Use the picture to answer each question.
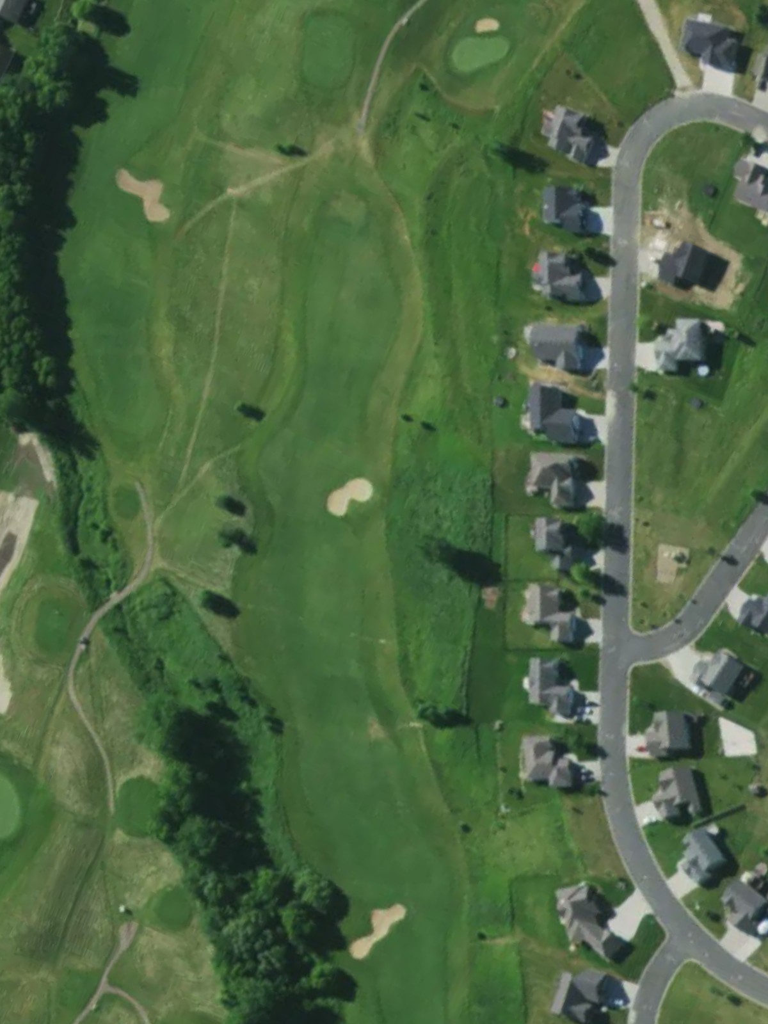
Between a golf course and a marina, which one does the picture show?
golf course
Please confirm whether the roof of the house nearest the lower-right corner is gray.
Yes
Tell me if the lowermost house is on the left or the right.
right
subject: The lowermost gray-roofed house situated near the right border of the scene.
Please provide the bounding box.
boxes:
[719,875,768,939]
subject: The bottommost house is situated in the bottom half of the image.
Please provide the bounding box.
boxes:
[551,967,611,1024]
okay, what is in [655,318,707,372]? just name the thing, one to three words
house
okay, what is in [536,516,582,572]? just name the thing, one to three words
house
